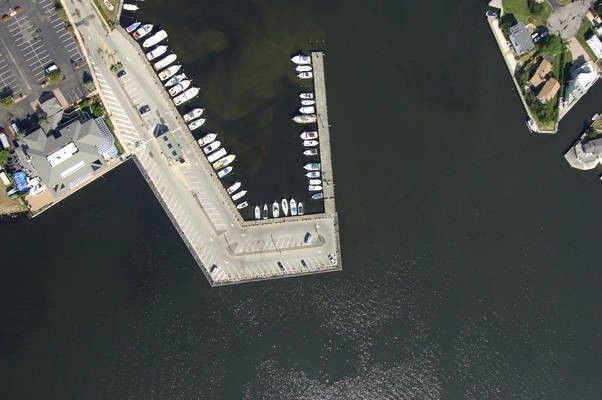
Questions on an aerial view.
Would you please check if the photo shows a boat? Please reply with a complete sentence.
Yes, I can see a boat in this picture.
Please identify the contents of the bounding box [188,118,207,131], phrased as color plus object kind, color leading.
white boat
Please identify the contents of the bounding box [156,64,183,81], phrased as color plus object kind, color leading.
white boat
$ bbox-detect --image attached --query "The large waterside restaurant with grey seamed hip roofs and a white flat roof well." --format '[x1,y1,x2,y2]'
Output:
[21,96,116,196]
